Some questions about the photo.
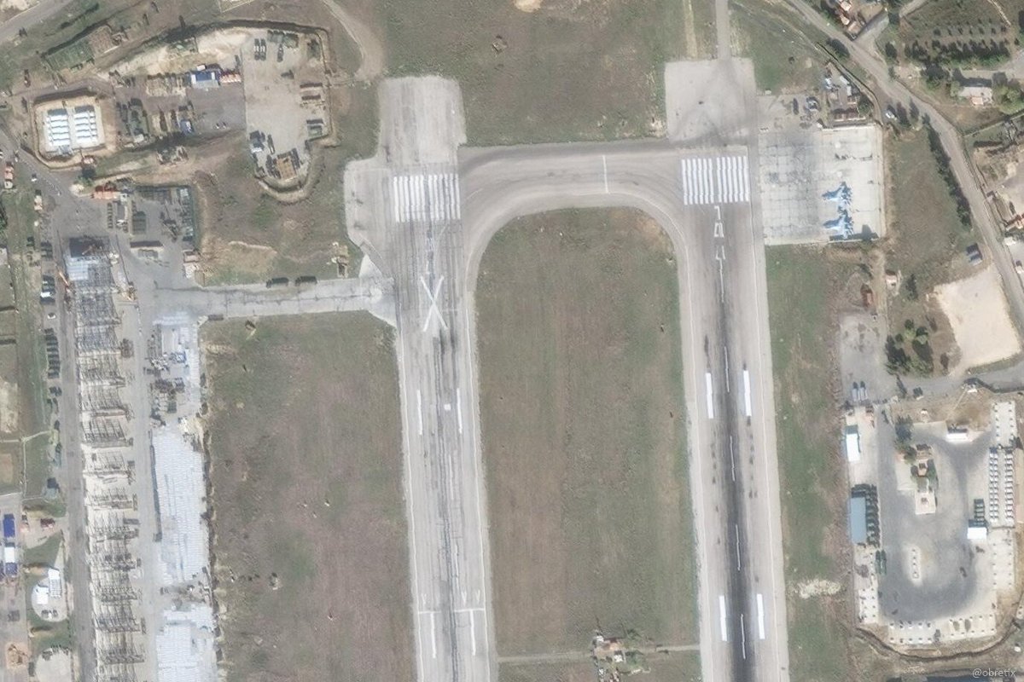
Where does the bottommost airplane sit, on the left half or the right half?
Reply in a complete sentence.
You can find the bottommost airplane on the right side of the picture.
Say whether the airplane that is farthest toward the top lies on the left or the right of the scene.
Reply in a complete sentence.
You can find the airplane that is farthest toward the top on the right side of the picture.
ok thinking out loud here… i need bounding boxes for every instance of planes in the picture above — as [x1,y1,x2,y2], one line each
[824,215,855,238]
[823,186,854,209]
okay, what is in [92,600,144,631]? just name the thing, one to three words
hangar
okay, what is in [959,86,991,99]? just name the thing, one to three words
house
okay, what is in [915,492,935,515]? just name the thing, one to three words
building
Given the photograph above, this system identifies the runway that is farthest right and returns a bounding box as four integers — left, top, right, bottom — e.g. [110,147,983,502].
[657,129,789,682]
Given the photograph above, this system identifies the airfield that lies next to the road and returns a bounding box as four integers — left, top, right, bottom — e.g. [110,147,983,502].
[73,57,887,682]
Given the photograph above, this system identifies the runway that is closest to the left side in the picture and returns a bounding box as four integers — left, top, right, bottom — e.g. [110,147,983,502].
[391,146,498,682]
